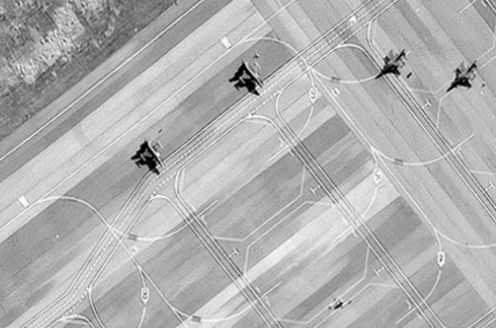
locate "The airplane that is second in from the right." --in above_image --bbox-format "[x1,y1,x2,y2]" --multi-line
[381,46,413,72]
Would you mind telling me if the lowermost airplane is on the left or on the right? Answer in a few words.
left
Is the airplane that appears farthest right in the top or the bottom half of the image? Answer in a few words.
top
